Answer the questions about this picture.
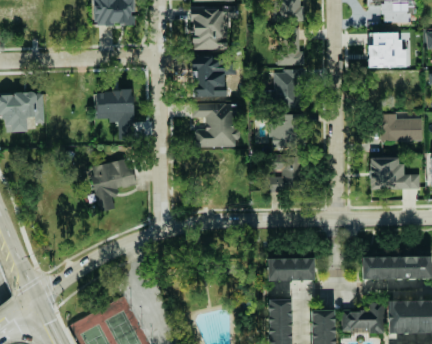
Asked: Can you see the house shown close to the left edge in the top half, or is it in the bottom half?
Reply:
top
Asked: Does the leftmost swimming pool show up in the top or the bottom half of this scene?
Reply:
bottom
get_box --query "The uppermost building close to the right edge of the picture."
[382,0,415,23]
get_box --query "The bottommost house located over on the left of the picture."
[90,161,136,212]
